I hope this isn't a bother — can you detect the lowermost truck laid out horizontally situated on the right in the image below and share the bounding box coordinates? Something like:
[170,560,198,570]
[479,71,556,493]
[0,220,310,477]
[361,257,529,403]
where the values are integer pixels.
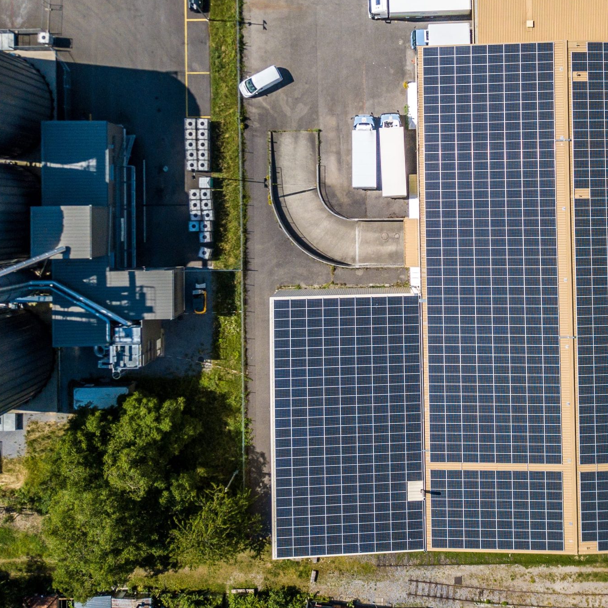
[408,23,470,54]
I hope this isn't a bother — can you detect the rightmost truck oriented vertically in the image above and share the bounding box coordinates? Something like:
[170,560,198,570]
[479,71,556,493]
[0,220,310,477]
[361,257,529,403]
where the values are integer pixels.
[374,112,406,197]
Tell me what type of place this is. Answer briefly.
industrial area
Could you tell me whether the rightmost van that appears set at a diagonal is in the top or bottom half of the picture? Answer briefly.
top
